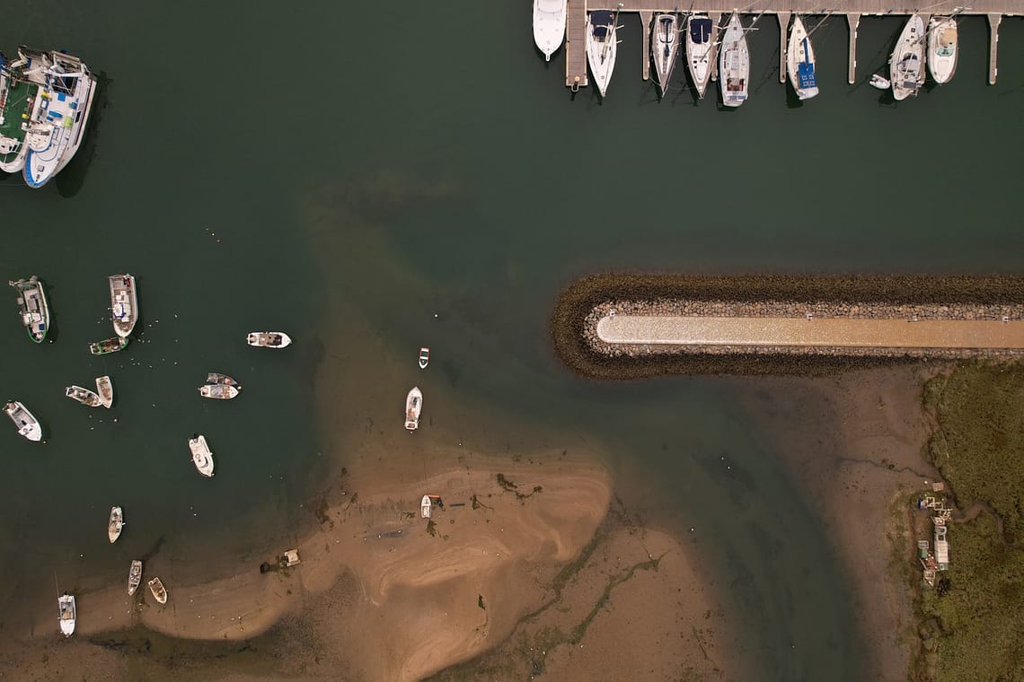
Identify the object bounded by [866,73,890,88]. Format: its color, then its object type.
white boat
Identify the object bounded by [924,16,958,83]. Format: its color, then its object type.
white boat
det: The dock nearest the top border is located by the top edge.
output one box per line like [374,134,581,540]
[566,0,1024,92]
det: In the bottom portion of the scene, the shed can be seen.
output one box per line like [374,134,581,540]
[928,539,948,569]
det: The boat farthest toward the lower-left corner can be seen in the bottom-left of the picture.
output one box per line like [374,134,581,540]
[54,566,77,637]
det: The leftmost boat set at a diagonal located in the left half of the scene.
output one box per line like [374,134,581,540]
[2,401,43,441]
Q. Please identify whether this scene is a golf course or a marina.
marina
